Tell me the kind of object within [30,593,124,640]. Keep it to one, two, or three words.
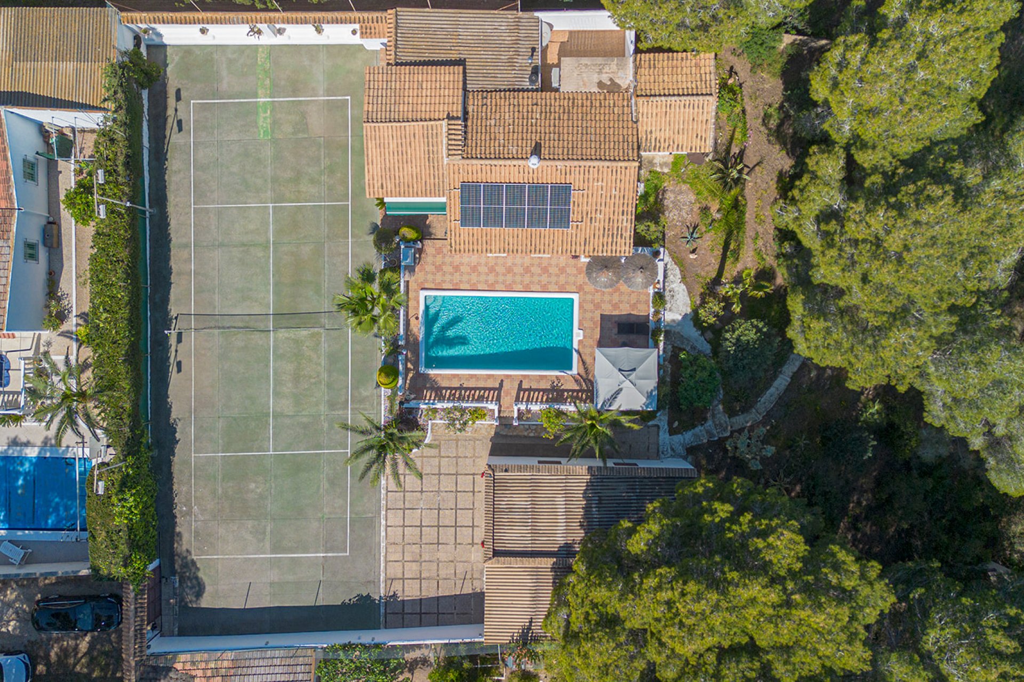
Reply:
car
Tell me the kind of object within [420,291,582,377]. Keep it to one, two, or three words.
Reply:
swimming pool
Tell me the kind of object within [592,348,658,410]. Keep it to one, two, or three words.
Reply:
gazebo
